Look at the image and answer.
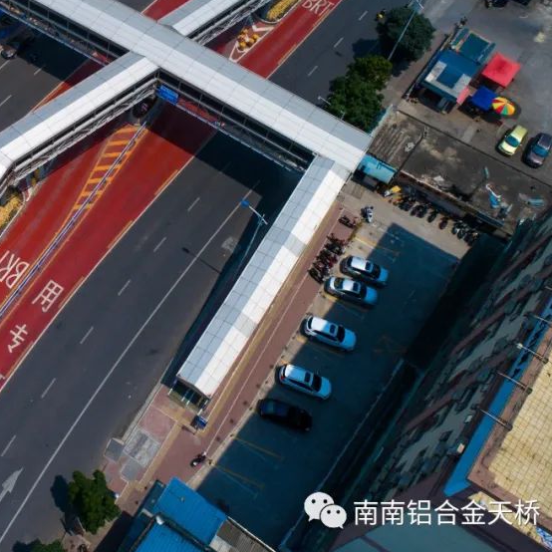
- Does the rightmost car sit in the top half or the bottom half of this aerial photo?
top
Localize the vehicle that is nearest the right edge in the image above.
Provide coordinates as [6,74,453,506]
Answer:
[524,129,552,166]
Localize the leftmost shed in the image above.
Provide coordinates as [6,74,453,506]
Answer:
[118,481,166,552]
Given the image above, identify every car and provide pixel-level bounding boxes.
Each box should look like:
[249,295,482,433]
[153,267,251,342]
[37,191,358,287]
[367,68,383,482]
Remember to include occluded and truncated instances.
[325,275,377,309]
[524,129,552,166]
[496,124,530,155]
[255,395,313,435]
[277,366,332,403]
[303,315,356,353]
[339,254,391,289]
